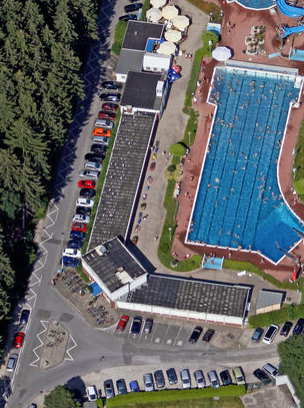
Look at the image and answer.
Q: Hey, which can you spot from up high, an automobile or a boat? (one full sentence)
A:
It is an automobile that can be seen here.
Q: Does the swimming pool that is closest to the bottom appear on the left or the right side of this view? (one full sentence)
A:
The swimming pool that is closest to the bottom sits on the right side.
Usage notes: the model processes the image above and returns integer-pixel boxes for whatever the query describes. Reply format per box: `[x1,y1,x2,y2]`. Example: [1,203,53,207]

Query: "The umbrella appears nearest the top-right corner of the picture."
[212,45,231,62]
